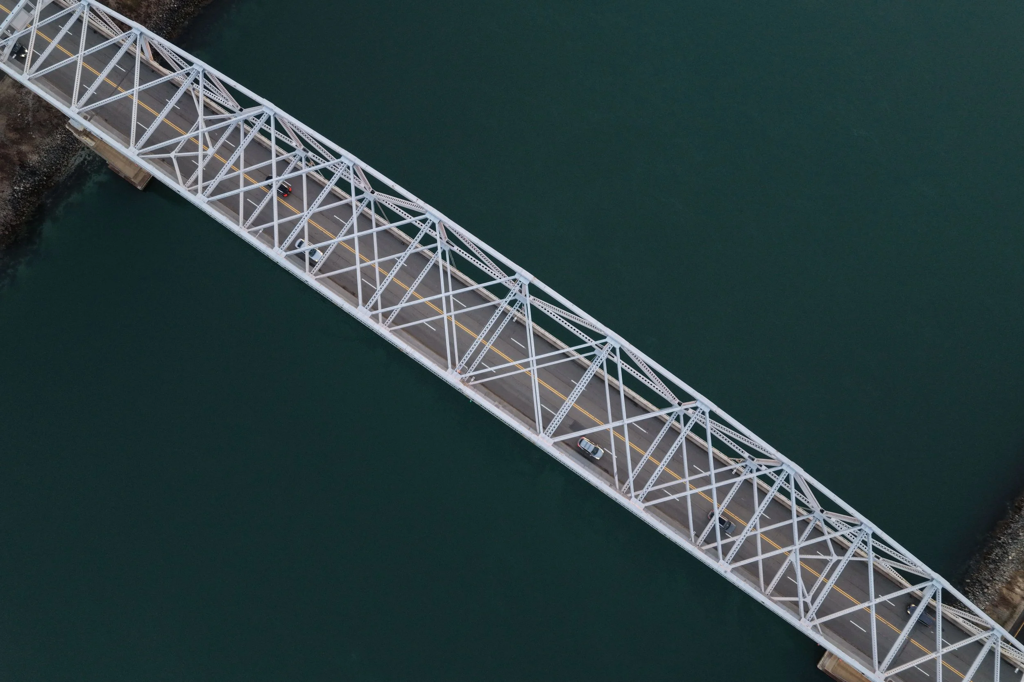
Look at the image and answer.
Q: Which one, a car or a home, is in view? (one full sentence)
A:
It is a car that can be seen here.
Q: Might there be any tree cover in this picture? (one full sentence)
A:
No, there's no tree cover in this view.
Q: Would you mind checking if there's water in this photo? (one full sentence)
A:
Yes, the picture does contain water.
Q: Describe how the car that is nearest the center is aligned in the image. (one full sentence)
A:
Seen from above, the car that is nearest the center lies at an angle.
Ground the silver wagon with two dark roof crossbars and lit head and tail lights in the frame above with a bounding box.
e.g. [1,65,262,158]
[576,437,605,461]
